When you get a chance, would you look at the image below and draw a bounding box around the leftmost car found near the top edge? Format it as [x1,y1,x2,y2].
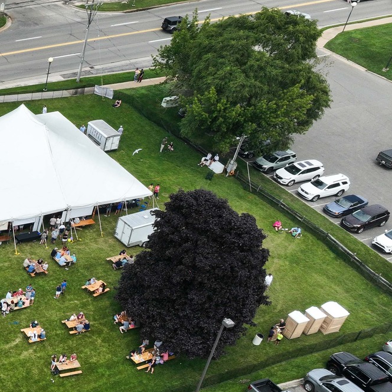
[161,12,192,30]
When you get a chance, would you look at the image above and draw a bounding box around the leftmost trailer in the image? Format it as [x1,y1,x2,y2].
[80,116,126,150]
